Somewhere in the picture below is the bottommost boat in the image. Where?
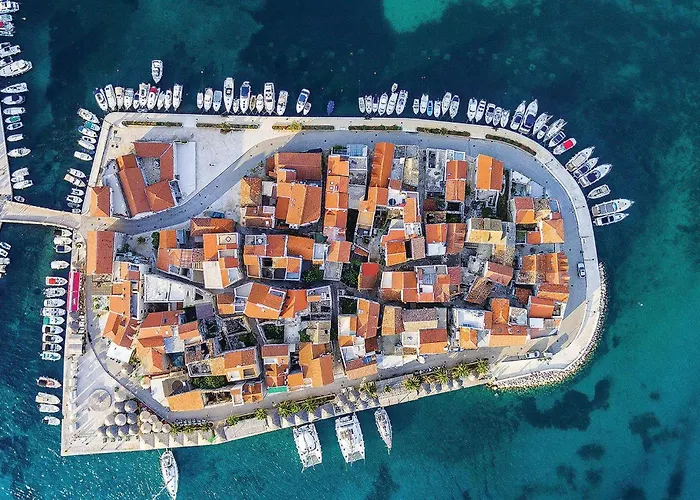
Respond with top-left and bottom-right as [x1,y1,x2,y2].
[153,448,178,500]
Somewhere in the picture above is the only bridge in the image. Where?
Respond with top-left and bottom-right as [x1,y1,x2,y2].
[0,200,81,232]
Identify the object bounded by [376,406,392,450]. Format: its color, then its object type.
white boat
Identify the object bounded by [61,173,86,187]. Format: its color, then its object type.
white boat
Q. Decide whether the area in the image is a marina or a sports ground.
marina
